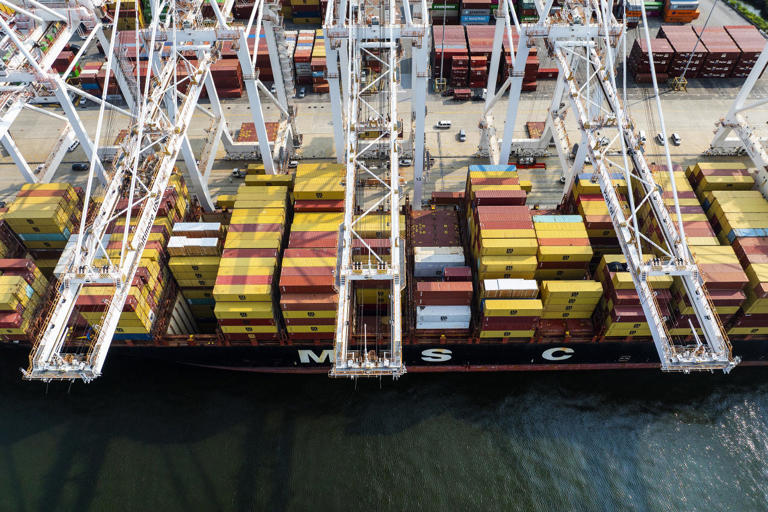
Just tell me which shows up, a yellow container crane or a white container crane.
white container crane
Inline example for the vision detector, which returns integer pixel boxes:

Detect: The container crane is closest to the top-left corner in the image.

[0,0,159,206]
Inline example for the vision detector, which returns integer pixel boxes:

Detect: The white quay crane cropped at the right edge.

[708,41,768,166]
